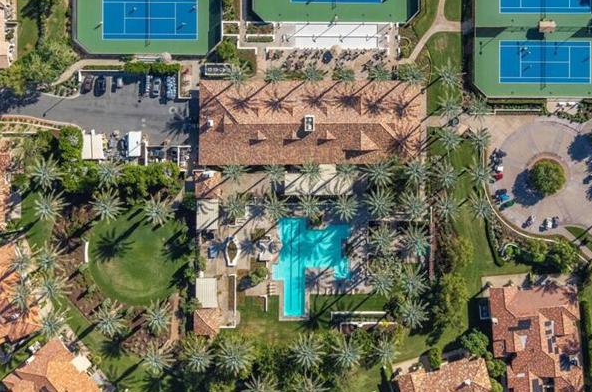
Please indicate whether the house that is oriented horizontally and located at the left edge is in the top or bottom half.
bottom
